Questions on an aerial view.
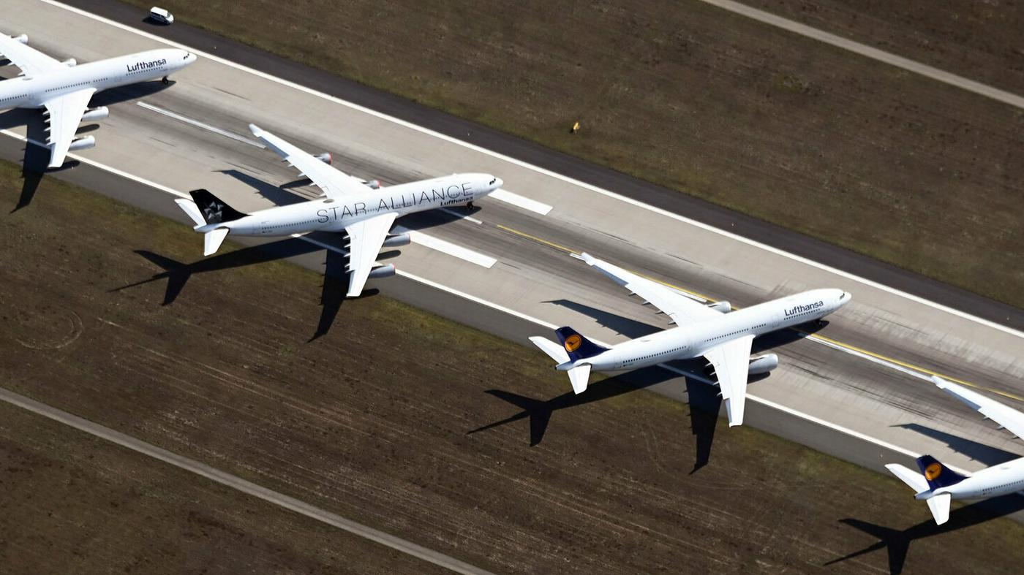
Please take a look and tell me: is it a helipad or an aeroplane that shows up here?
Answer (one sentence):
Visible in the photo is an aeroplane.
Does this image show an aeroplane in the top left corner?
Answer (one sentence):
Yes, an aeroplane is visible in the top left corner.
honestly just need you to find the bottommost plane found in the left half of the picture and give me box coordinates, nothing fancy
[174,122,503,297]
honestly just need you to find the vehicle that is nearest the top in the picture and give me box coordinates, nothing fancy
[148,10,173,27]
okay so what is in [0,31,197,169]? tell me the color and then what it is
white airplane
